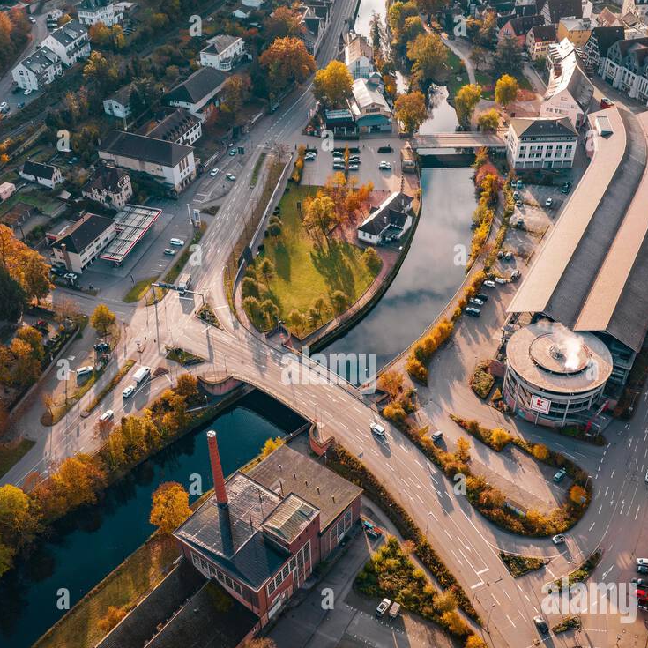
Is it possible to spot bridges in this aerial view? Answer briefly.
Yes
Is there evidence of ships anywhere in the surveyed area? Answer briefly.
No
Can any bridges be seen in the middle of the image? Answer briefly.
Yes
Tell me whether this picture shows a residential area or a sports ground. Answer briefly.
residential area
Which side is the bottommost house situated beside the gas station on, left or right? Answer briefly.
left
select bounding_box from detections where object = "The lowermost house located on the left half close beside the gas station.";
[38,212,129,283]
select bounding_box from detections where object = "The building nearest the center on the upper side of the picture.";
[339,192,424,255]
